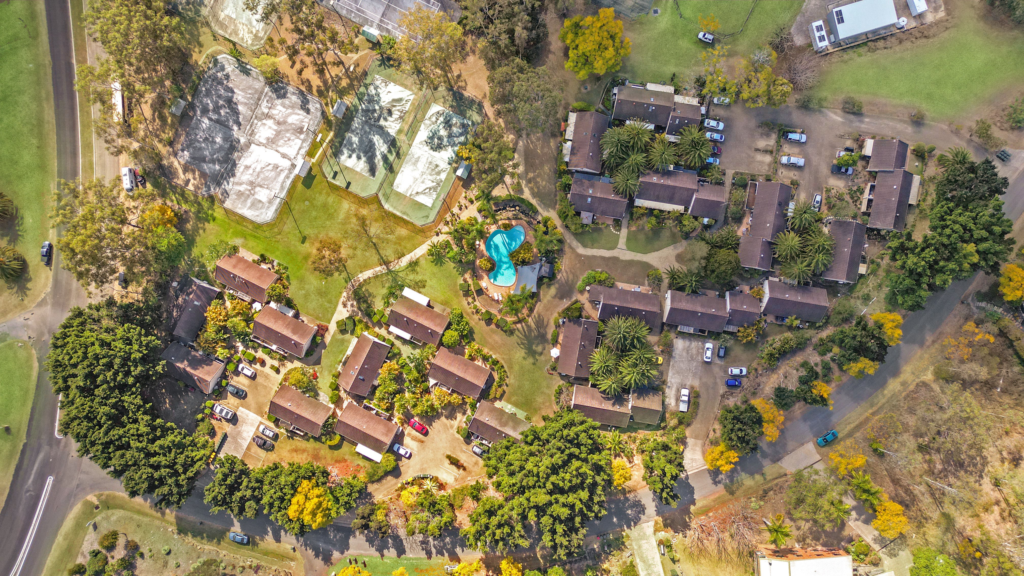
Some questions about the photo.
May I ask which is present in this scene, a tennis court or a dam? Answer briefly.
tennis court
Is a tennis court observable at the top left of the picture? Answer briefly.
Yes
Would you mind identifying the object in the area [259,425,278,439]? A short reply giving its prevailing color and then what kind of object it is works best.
white car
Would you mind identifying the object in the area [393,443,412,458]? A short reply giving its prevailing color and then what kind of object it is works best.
white car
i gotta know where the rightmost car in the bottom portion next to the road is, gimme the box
[817,430,837,446]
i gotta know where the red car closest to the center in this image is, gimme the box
[410,418,428,435]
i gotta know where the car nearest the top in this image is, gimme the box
[697,32,714,44]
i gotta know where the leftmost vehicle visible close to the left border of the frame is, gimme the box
[41,243,53,264]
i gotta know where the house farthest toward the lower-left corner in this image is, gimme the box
[160,342,227,395]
